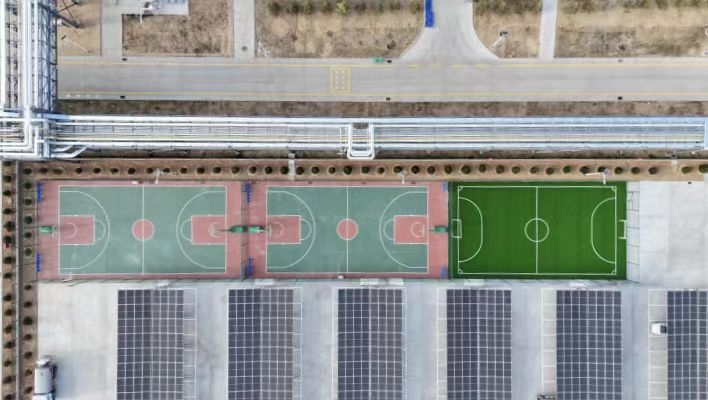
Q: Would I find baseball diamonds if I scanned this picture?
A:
No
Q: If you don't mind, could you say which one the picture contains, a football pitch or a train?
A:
football pitch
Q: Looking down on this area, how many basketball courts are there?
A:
2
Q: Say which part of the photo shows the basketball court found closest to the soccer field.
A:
center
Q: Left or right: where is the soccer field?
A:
right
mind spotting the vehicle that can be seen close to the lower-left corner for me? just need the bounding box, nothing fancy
[37,350,62,400]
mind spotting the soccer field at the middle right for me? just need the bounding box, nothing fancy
[450,181,628,280]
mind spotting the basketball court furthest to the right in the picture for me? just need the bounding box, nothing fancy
[247,181,449,280]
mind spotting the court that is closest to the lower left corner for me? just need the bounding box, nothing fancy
[37,181,241,280]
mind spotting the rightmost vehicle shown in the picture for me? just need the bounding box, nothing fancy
[653,323,668,336]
